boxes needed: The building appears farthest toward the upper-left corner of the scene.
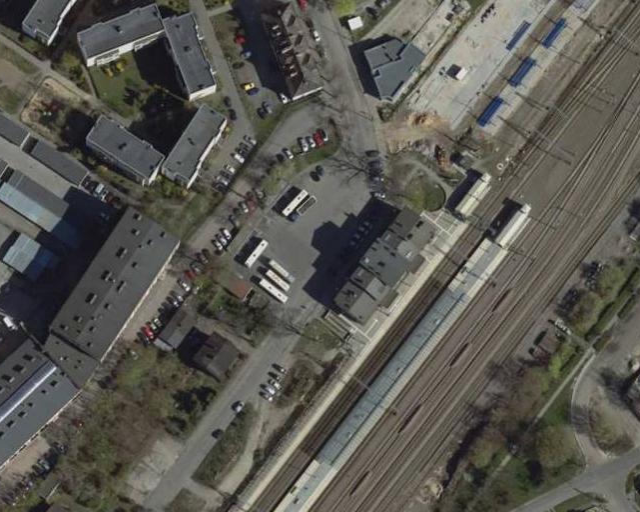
[23,0,77,43]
